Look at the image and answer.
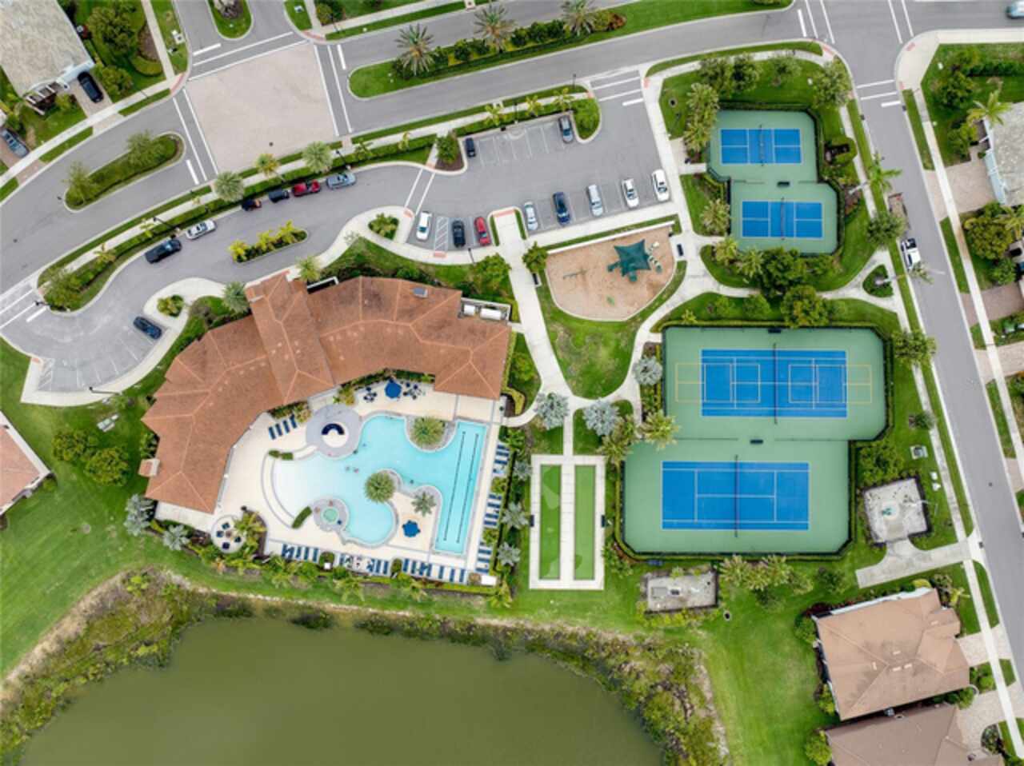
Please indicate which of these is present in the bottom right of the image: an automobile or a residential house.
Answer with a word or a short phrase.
residential house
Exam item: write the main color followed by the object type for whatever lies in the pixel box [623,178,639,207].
white car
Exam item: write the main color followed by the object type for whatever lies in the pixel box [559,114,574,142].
gray car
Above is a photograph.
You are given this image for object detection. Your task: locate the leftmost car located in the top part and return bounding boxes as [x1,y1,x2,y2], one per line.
[0,126,24,154]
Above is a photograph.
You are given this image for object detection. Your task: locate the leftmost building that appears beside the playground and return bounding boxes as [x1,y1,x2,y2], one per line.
[137,270,512,515]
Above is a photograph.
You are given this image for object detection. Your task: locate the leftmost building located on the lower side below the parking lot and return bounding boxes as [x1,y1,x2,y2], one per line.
[0,423,48,512]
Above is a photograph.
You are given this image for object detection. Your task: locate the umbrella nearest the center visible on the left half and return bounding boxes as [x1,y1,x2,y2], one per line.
[385,382,402,399]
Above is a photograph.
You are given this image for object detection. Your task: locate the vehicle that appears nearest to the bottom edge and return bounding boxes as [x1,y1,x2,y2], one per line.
[131,316,160,338]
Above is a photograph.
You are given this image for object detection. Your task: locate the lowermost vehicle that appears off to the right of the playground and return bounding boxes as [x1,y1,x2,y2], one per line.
[903,236,923,271]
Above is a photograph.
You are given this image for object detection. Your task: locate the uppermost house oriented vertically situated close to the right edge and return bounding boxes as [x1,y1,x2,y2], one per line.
[975,101,1024,208]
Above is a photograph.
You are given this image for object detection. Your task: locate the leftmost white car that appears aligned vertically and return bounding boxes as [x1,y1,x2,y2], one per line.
[415,211,430,239]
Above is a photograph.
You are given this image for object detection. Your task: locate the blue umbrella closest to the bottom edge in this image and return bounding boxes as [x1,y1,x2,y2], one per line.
[403,521,418,536]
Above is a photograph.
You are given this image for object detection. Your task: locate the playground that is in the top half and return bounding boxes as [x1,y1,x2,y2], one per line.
[546,225,676,322]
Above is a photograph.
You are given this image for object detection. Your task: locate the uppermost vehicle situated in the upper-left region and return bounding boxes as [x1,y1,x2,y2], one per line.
[75,69,99,100]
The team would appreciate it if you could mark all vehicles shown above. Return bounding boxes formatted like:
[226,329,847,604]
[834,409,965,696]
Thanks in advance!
[588,185,603,214]
[474,216,489,245]
[623,178,639,207]
[291,180,319,196]
[184,220,215,239]
[903,236,923,271]
[0,126,24,154]
[325,171,356,187]
[554,192,570,222]
[559,114,574,142]
[239,196,263,211]
[75,69,99,100]
[452,218,465,247]
[464,136,475,156]
[266,186,289,202]
[131,316,160,338]
[523,201,538,230]
[415,211,430,239]
[142,239,180,262]
[652,168,669,199]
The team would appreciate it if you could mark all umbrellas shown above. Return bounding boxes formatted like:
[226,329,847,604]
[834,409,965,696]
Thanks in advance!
[403,521,418,536]
[385,382,402,399]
